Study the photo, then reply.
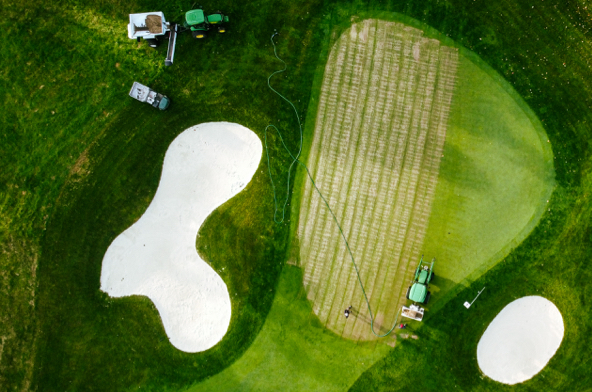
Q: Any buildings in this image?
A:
No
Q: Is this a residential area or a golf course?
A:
golf course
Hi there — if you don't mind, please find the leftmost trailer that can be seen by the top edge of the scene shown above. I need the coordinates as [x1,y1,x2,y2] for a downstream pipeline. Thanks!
[128,12,185,68]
